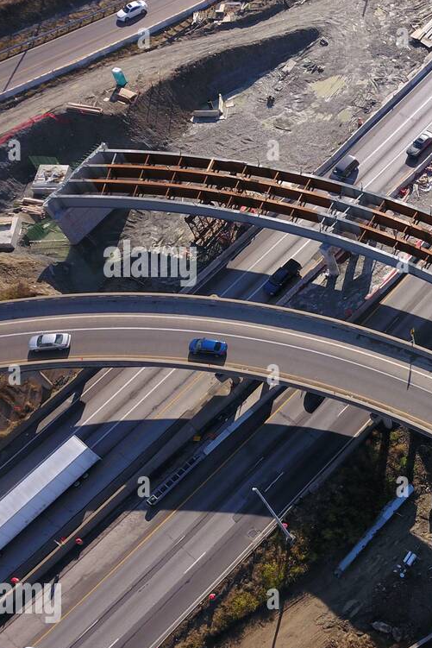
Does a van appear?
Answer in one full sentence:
Yes, looking at the shot, I can spot a van.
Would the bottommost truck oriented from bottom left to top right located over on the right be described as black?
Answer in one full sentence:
Yes, the bottommost truck oriented from bottom left to top right located over on the right appears black.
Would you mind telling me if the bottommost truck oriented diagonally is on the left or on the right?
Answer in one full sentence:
The bottommost truck oriented diagonally sits on the left side.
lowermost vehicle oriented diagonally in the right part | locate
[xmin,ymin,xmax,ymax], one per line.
[260,259,301,297]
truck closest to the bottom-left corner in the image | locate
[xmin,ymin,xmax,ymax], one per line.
[0,450,102,568]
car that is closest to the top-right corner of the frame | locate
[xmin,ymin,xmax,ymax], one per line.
[407,130,432,154]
